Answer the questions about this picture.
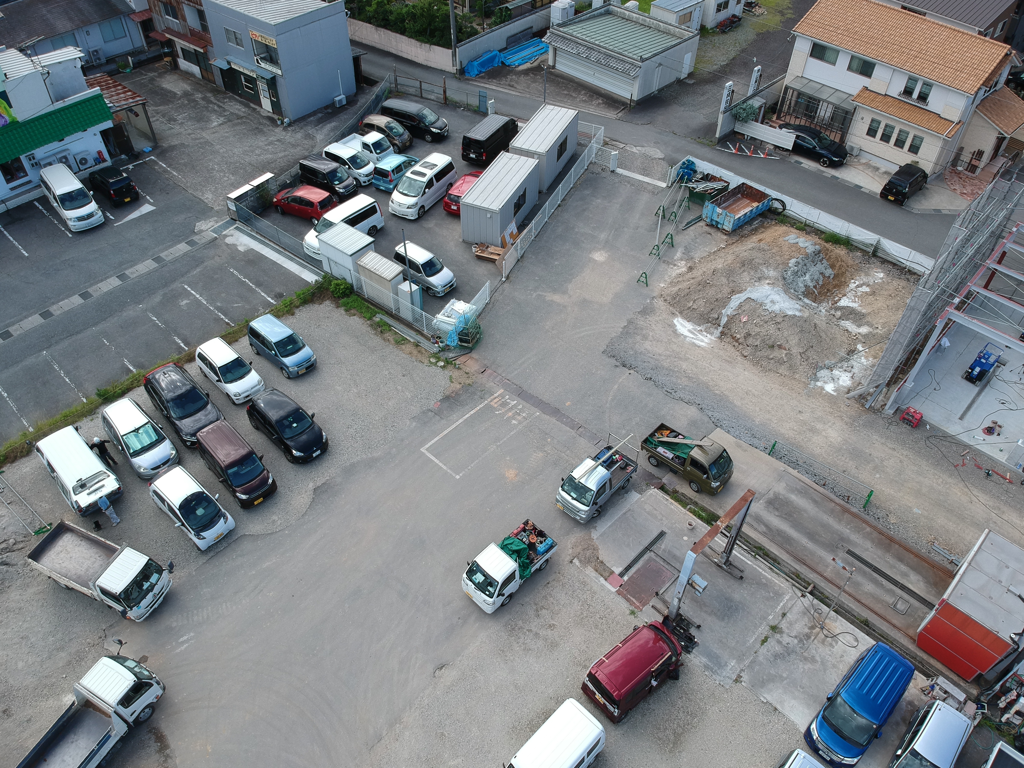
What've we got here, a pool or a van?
van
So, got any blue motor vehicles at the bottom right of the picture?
Yes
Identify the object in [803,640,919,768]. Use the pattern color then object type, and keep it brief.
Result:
blue car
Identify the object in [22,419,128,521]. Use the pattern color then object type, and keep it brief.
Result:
white van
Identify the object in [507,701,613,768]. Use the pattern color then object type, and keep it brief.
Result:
white van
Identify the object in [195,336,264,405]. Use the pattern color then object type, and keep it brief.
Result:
white car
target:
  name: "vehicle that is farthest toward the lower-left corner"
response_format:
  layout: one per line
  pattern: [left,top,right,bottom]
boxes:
[6,644,168,768]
